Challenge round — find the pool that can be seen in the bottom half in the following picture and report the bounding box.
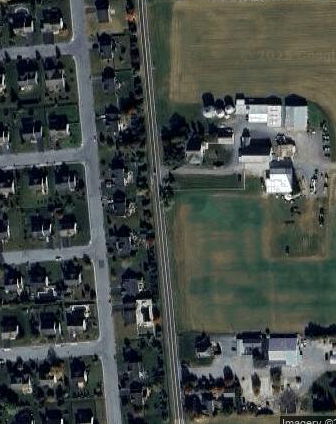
[138,301,152,320]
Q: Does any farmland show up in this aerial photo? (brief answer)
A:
Yes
